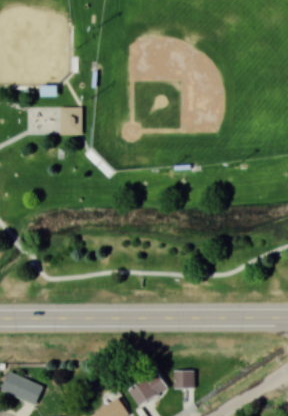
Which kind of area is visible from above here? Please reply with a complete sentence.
The area seen from above is a sports ground.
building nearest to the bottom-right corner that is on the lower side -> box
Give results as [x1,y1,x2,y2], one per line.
[174,370,195,390]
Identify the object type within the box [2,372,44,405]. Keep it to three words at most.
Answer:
house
